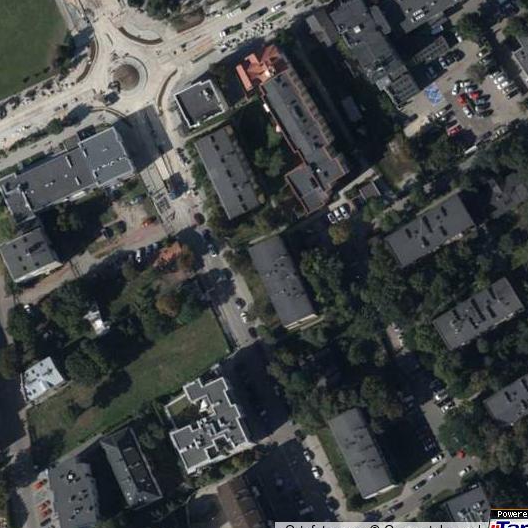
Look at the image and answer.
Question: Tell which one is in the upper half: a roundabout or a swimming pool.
roundabout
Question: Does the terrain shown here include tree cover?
Yes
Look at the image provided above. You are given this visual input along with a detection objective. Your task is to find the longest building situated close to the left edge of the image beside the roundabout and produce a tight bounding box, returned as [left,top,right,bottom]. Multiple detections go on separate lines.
[15,127,135,220]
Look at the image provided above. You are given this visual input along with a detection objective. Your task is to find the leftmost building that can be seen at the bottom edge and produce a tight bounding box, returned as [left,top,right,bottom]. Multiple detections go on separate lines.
[48,457,100,528]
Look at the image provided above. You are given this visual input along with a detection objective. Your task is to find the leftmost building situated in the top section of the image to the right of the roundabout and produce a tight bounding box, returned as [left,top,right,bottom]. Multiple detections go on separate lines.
[176,81,226,129]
